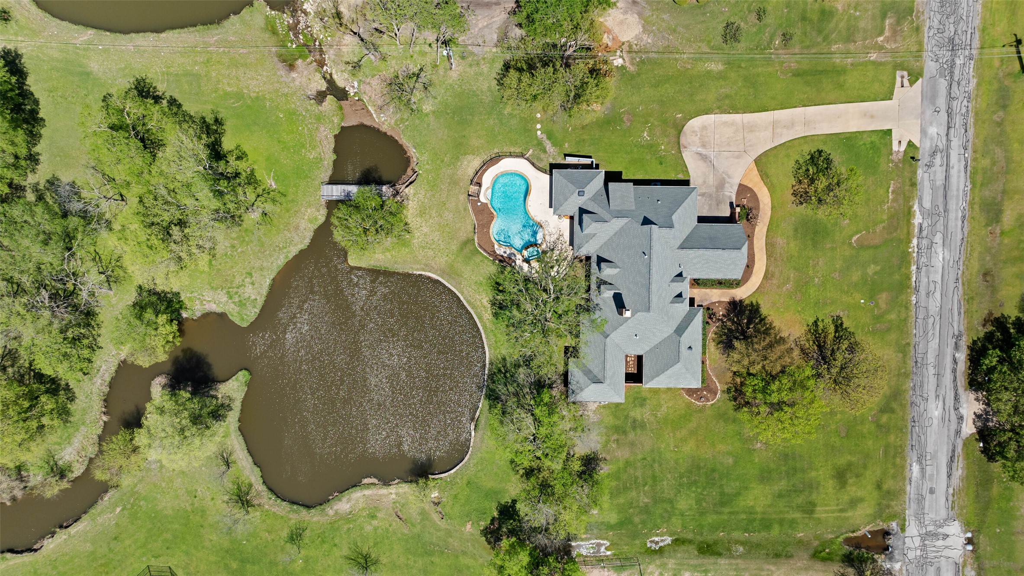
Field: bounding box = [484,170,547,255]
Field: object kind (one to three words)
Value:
swimming pool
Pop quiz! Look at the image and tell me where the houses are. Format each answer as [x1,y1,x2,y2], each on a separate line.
[552,169,748,402]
